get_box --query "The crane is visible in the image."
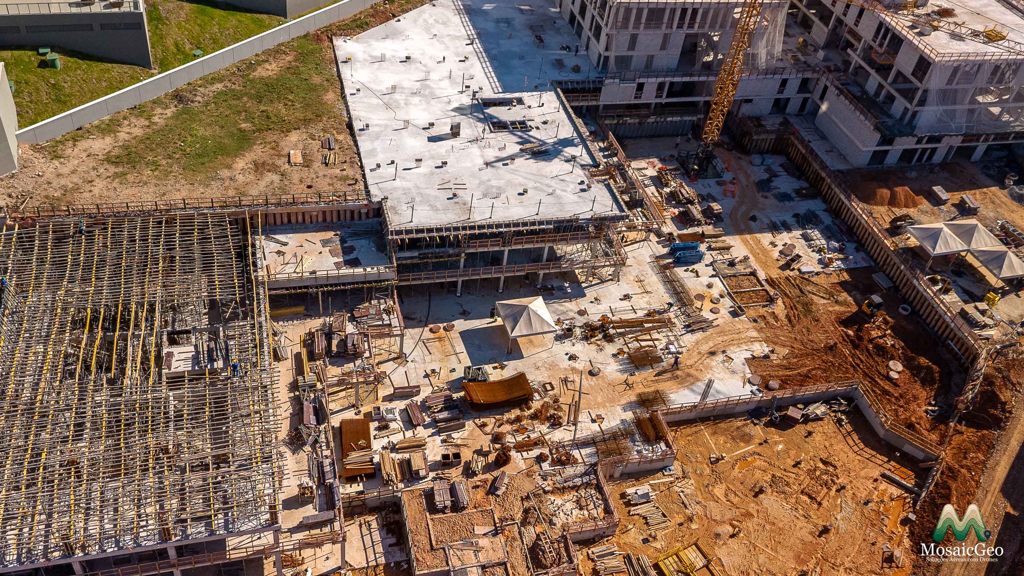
[675,0,772,188]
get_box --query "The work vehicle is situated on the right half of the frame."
[856,290,902,326]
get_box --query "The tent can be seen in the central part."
[493,295,560,358]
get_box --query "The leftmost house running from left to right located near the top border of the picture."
[0,0,158,69]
